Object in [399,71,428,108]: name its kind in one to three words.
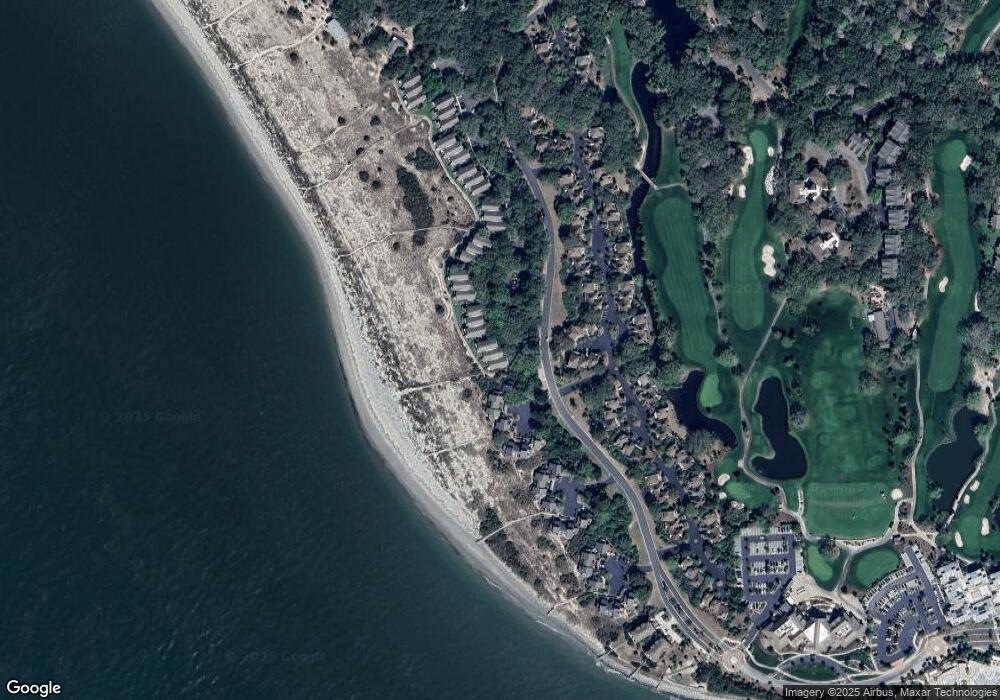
house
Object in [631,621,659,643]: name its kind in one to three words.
building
